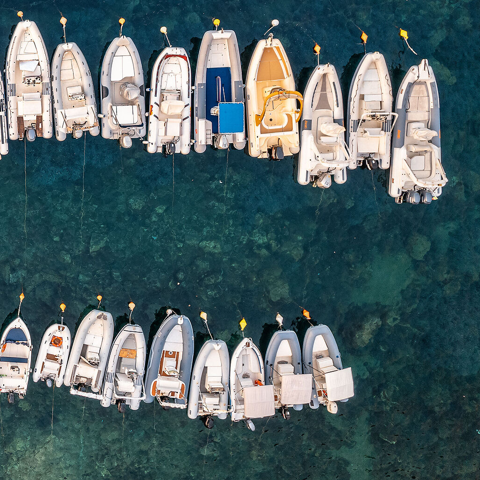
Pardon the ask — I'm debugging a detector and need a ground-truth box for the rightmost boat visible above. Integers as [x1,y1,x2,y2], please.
[390,54,448,204]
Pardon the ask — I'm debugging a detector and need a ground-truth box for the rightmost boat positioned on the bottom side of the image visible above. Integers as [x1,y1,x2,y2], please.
[304,325,354,414]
